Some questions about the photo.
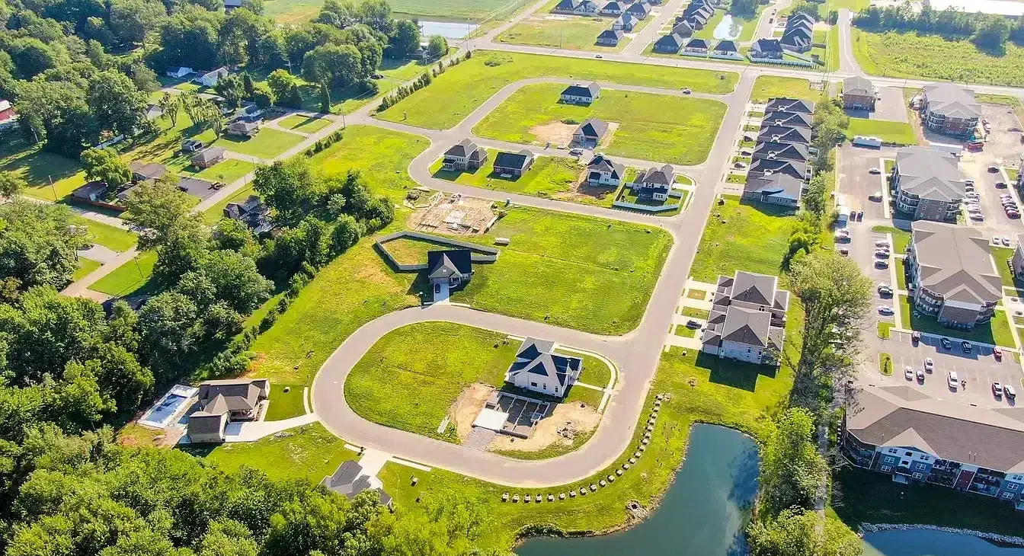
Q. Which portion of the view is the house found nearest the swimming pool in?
bottom left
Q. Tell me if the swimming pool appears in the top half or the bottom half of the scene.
bottom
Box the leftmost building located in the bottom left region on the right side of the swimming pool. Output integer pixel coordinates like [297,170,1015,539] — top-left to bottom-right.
[183,372,284,442]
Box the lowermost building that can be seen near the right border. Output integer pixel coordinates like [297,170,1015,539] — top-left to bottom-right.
[839,376,1024,503]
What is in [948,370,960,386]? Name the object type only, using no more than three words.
vehicle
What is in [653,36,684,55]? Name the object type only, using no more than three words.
house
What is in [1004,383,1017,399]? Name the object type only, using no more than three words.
vehicle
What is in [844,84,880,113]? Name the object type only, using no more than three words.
building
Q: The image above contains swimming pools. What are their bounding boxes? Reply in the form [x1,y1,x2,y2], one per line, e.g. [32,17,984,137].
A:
[145,394,188,424]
